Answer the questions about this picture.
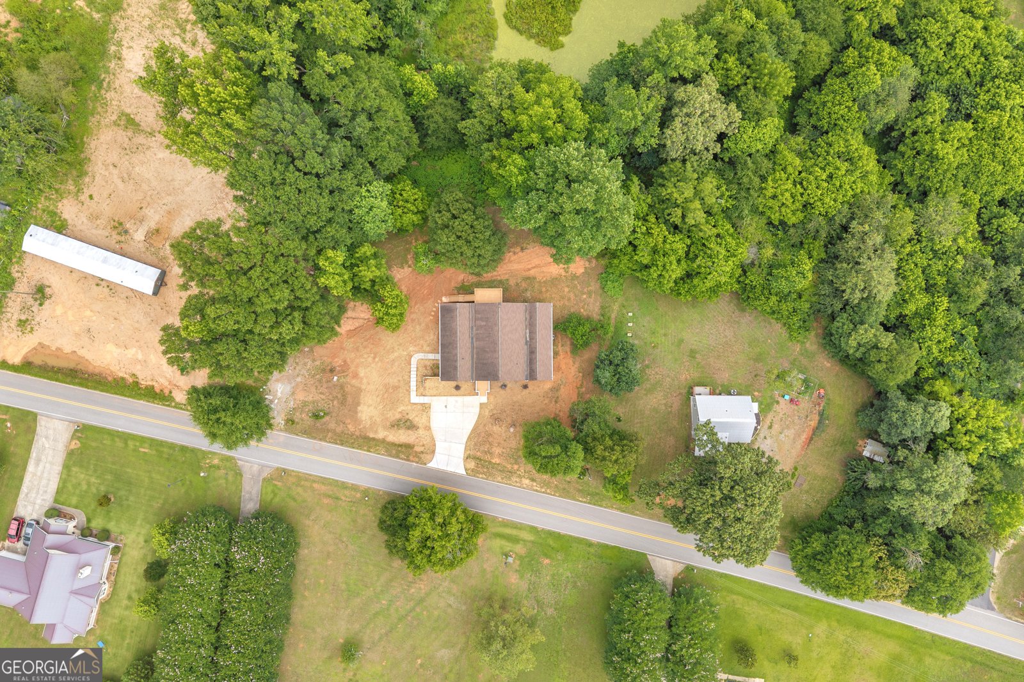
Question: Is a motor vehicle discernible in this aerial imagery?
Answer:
Yes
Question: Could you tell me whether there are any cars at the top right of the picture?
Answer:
No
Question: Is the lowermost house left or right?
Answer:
left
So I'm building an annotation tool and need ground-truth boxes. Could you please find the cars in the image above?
[22,519,40,545]
[8,516,26,544]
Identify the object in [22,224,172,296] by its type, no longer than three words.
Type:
house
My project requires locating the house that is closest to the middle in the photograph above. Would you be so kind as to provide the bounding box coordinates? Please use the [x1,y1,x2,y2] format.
[439,303,554,396]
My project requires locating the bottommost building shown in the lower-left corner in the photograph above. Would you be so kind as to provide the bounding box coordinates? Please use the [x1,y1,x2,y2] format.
[0,516,115,644]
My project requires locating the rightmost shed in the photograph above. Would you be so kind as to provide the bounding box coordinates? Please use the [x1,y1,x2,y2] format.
[857,437,888,463]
